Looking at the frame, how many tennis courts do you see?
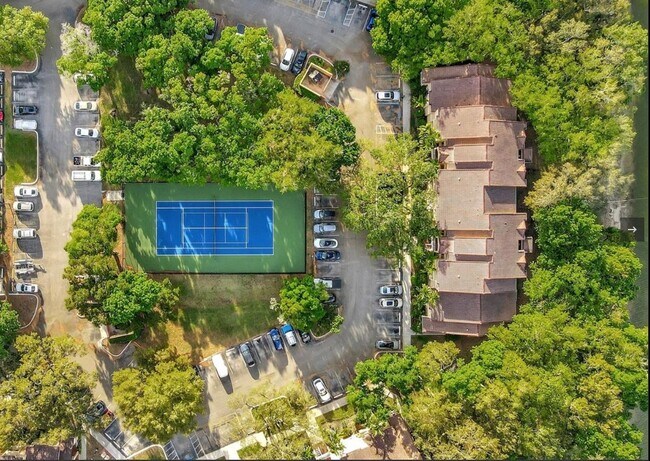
1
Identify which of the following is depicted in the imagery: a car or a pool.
car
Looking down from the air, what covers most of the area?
trees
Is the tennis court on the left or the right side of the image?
left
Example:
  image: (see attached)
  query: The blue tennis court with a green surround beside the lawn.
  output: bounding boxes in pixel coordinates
[124,183,305,274]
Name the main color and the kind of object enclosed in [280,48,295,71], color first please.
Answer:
white car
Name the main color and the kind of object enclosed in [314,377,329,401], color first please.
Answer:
white car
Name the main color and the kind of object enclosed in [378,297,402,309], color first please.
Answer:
white vehicle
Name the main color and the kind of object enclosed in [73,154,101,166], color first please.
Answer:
white vehicle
